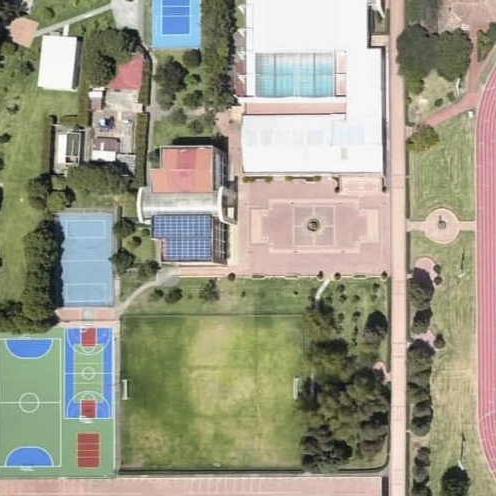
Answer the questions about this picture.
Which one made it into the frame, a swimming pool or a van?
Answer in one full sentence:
Looking from above, you can make out a swimming pool.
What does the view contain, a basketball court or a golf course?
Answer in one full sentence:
The one in the frame is a basketball court.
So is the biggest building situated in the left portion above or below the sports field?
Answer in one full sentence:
As seen from overhead, the biggest building situated in the left portion falls above the sports field in the picture.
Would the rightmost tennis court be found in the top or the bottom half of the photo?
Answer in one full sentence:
The rightmost tennis court sits in the top half of the picture.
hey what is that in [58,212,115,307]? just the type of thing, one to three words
sports court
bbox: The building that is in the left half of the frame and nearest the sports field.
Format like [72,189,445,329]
[133,146,240,265]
